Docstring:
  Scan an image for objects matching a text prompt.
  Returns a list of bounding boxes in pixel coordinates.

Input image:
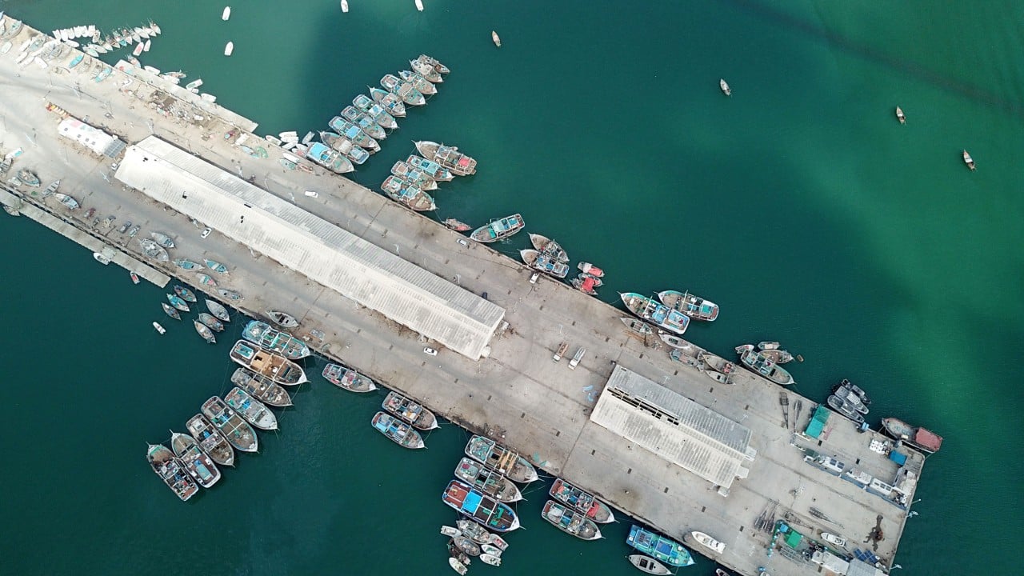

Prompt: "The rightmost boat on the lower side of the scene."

[877,416,944,456]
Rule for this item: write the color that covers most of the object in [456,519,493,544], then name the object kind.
gray boat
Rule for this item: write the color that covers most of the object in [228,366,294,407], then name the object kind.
gray boat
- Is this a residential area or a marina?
marina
